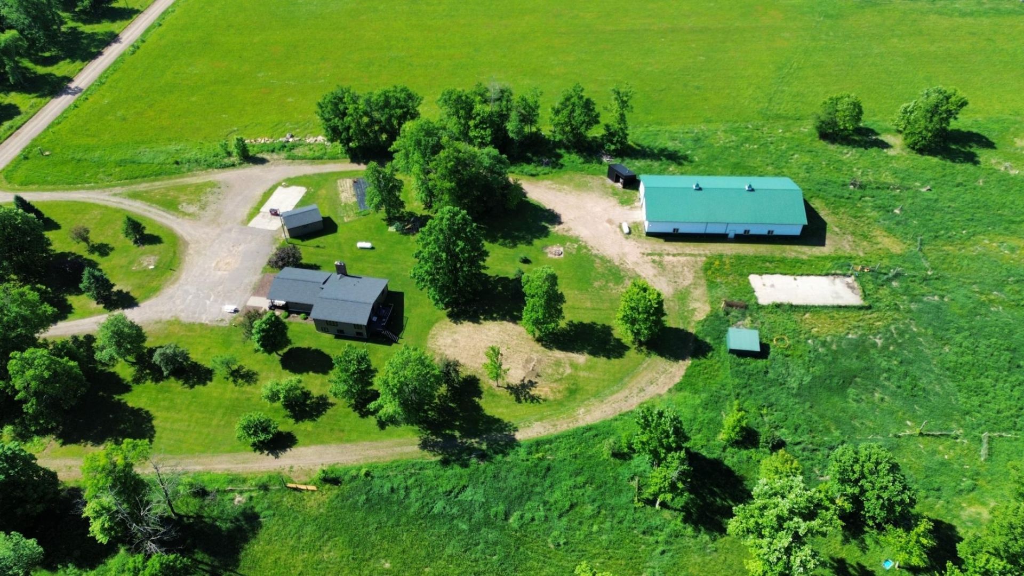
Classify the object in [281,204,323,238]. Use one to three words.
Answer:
shed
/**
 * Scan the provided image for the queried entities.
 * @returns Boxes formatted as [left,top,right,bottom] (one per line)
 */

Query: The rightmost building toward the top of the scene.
[636,175,808,237]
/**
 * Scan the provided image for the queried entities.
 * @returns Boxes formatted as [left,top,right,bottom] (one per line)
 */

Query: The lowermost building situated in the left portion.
[266,261,399,343]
